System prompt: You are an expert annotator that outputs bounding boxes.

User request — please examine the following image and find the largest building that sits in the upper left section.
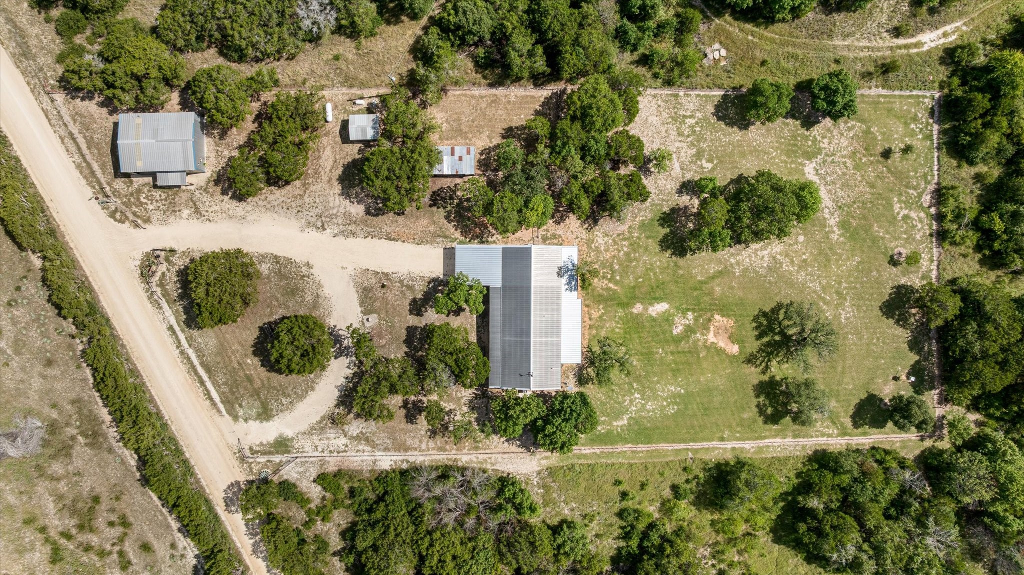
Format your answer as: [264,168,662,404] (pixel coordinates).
[117,112,205,187]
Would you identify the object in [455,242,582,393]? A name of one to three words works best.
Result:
house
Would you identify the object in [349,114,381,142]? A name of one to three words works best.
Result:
shed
